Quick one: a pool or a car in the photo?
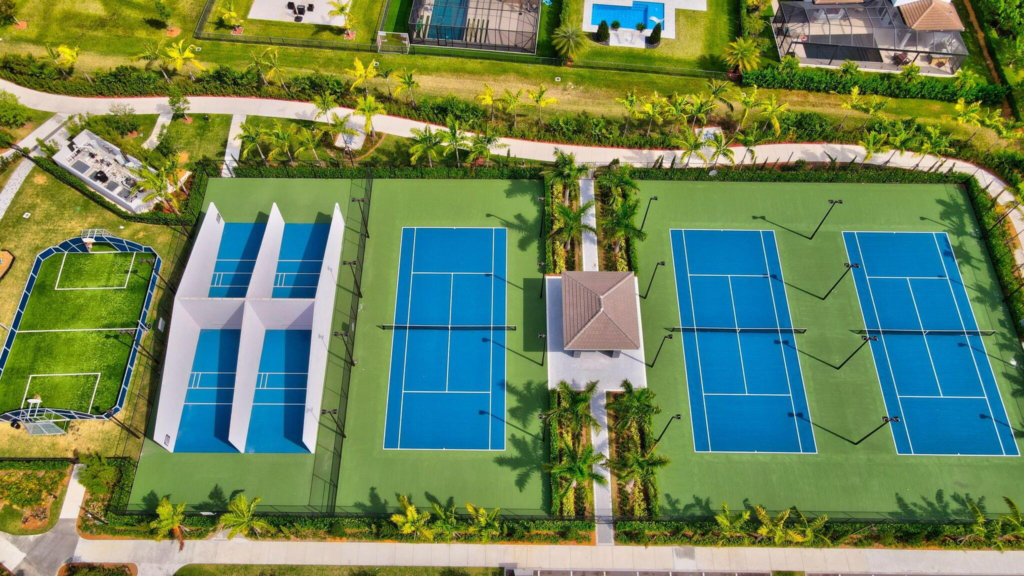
pool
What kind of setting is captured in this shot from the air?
sports ground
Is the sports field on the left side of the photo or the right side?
left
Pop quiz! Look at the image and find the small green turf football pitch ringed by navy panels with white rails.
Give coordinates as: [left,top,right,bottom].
[0,237,160,431]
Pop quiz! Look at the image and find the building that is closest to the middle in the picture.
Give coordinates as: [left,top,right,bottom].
[561,269,642,357]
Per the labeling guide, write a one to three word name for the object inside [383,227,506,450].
tennis court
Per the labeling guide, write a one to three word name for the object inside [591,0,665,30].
swimming pool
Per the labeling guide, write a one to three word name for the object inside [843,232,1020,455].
tennis court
